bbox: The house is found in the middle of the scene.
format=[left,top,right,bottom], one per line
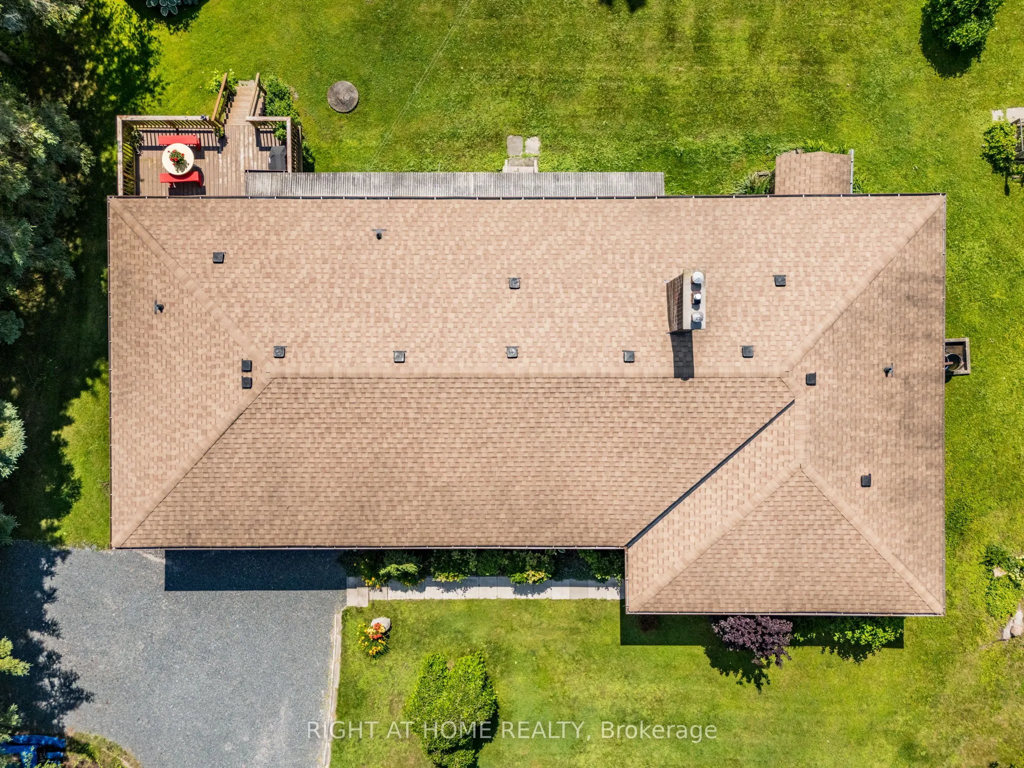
[108,152,954,615]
